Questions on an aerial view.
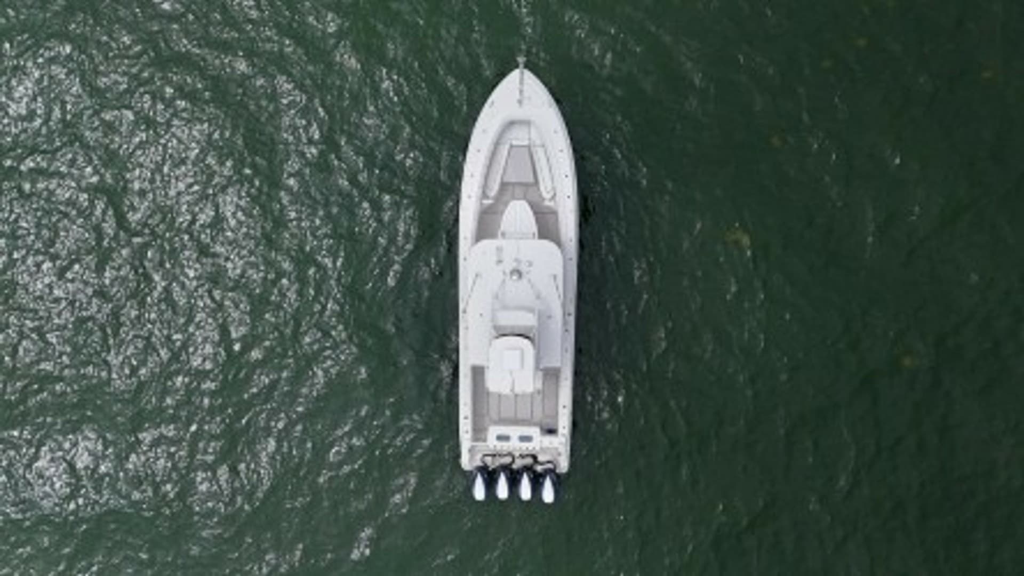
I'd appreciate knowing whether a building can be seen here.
No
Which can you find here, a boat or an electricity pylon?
boat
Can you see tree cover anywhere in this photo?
No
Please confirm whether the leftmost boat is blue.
No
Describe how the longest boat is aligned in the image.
from top to bottom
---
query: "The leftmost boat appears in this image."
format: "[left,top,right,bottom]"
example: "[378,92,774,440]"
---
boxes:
[459,63,579,503]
